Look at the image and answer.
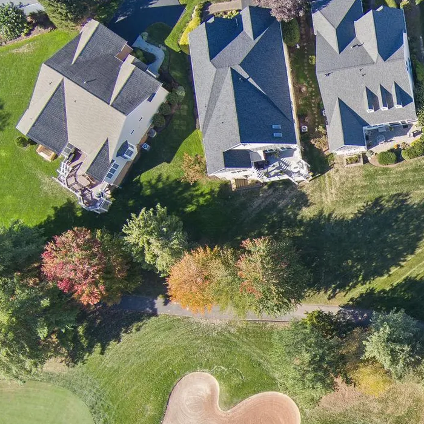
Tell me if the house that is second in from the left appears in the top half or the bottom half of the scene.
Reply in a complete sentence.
The top half of the photo is where the house that is second in from the left is.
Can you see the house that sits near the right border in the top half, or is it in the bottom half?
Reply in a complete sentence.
Seen from above, the house that sits near the right border lies in the top half of the view.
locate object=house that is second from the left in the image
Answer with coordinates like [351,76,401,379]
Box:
[188,0,315,188]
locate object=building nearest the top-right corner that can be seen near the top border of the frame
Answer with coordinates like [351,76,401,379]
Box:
[310,0,423,155]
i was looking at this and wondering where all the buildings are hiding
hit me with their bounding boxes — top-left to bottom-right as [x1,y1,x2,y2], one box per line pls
[188,0,315,188]
[310,0,423,155]
[15,19,171,217]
